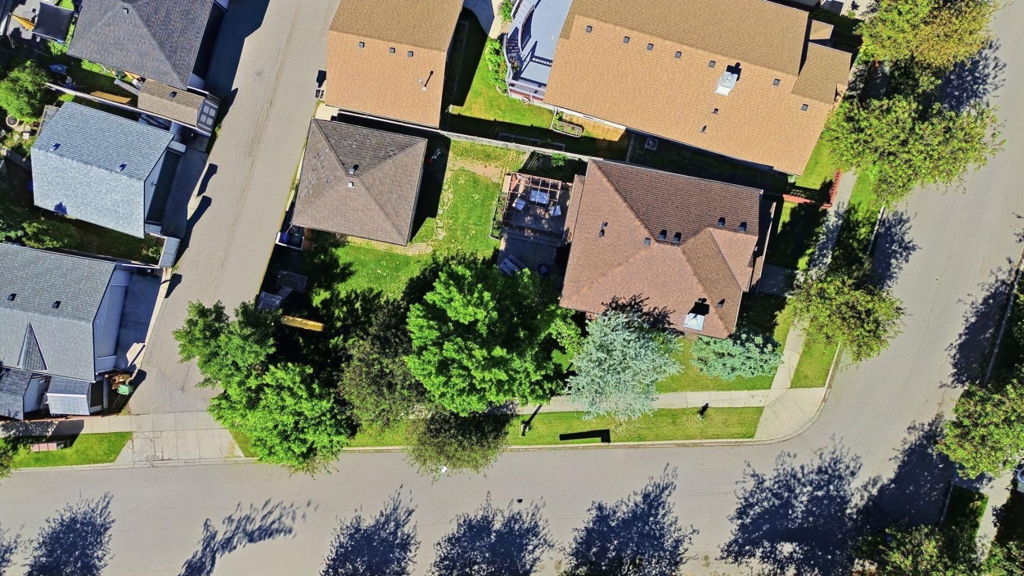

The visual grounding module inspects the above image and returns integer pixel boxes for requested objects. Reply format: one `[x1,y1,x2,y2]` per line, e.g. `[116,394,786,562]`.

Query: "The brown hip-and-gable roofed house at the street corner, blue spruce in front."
[562,158,776,335]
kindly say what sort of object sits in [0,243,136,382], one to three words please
house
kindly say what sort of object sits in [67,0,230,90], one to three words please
building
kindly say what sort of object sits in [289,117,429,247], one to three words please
building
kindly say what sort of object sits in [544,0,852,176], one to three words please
house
